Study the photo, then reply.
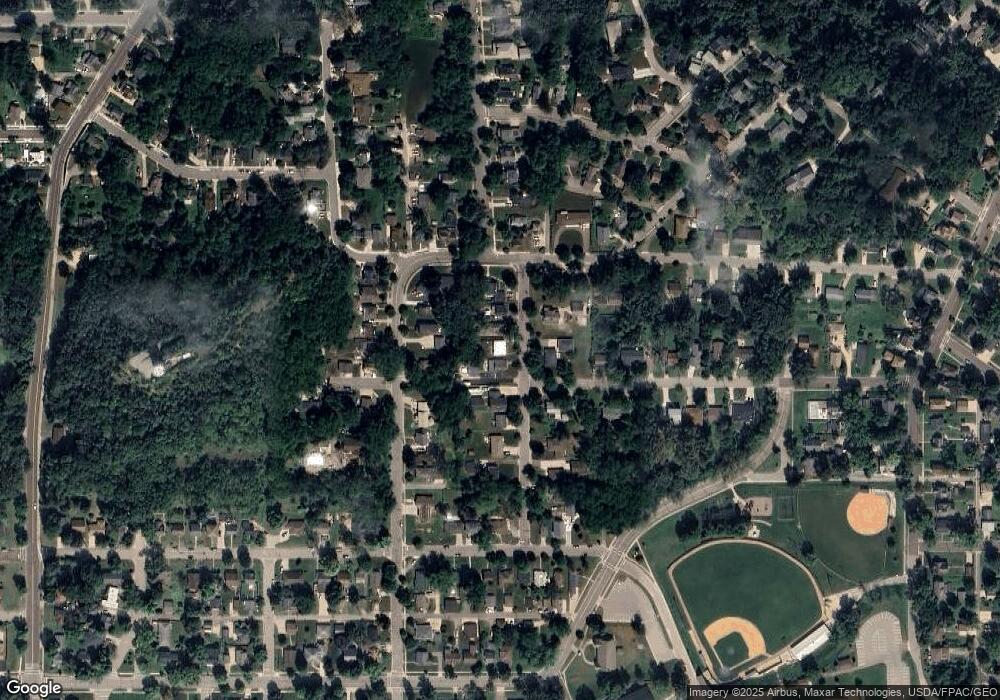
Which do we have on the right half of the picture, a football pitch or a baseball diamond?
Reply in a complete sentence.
The one visible on the right half of the picture is a baseball diamond.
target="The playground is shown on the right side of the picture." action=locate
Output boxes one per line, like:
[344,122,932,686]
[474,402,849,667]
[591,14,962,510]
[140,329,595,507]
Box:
[750,497,772,516]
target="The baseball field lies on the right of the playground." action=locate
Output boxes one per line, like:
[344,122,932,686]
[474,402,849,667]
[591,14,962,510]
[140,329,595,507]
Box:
[800,486,902,584]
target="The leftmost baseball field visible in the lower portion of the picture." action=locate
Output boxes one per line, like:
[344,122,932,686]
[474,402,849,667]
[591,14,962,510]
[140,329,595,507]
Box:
[670,540,823,682]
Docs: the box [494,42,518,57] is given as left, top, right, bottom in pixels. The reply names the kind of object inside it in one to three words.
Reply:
house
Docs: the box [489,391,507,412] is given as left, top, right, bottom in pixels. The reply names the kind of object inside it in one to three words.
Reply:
house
